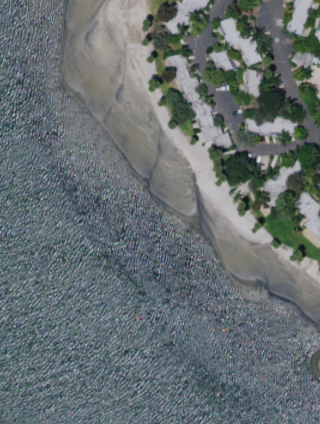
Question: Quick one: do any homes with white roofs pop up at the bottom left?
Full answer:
No, no home with a white roof can be made out at the bottom left.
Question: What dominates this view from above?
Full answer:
The bulk of the photo consists of water.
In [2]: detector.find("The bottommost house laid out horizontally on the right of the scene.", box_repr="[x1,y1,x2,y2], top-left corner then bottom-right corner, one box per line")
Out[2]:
[243,116,298,138]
